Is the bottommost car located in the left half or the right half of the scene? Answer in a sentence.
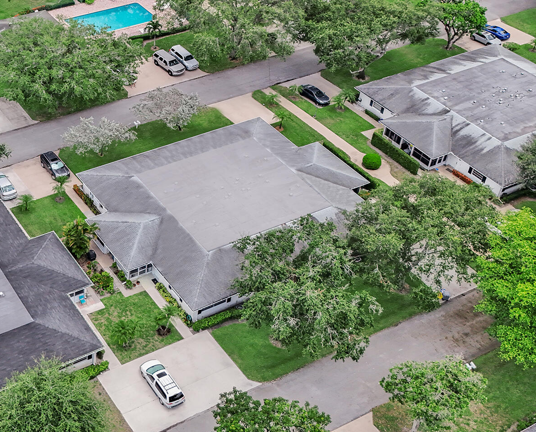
The bottommost car sits on the left side.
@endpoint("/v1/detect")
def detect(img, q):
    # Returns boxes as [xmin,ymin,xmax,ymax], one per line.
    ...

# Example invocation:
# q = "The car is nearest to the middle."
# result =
[296,84,334,109]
